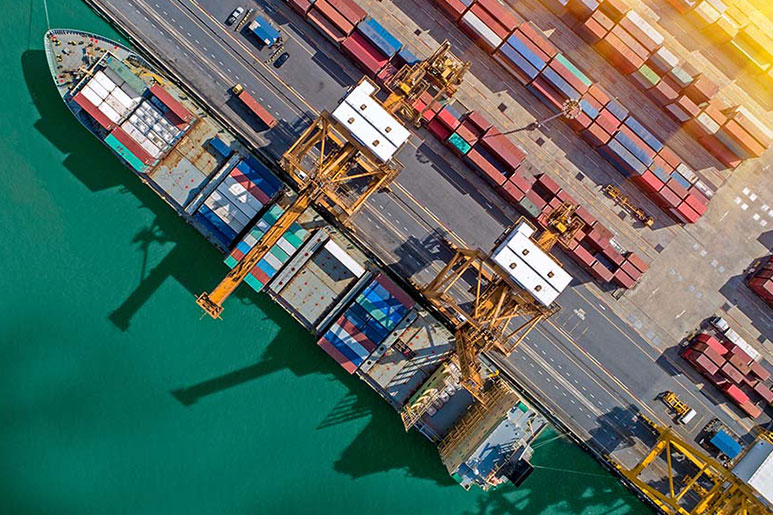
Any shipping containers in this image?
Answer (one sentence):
Yes, a shipping container is visible in the scene.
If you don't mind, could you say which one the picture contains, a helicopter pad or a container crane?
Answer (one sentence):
There is a container crane in the scene.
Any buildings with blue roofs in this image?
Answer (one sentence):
Yes, I can see a building with a blue roof in this picture.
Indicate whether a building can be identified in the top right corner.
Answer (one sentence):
No, in the top right corner there is no building.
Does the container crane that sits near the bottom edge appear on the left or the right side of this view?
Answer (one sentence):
The container crane that sits near the bottom edge sits on the right side.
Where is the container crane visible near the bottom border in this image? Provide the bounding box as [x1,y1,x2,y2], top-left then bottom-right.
[601,412,773,515]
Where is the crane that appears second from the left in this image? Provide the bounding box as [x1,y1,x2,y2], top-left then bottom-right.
[410,205,593,406]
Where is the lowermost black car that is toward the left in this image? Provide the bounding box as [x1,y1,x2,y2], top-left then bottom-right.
[276,54,291,69]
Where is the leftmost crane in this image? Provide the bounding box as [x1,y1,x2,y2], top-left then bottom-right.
[189,41,476,325]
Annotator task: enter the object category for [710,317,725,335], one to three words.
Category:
vehicle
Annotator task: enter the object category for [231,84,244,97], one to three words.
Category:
vehicle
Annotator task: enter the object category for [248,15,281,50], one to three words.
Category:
building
